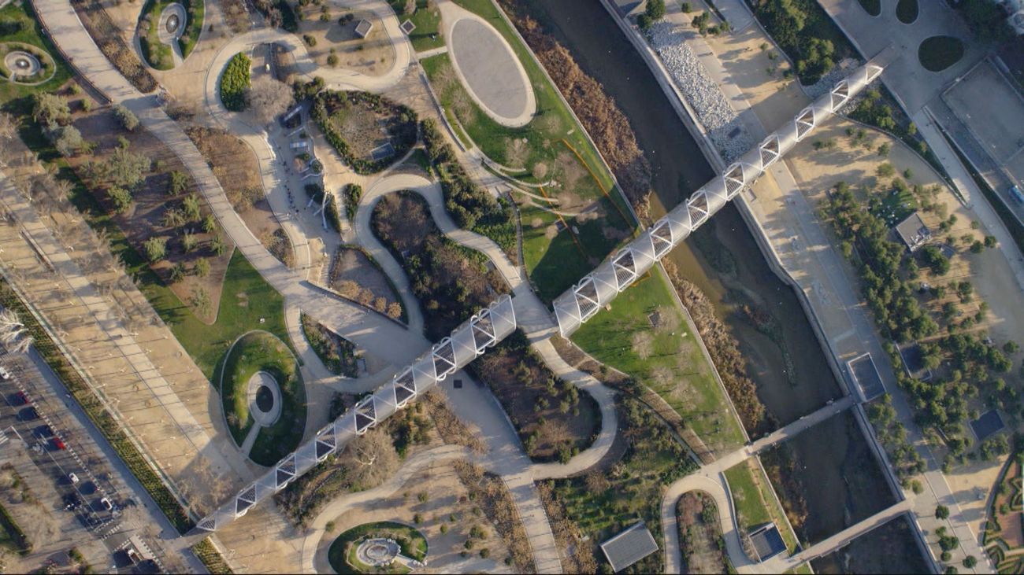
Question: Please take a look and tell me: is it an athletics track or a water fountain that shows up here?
water fountain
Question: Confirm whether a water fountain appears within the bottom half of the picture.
Yes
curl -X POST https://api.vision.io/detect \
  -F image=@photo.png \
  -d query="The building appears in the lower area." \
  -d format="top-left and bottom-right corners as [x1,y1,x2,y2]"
[599,521,659,573]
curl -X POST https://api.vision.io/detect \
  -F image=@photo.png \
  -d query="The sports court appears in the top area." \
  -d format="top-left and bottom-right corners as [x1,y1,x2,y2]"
[940,55,1024,187]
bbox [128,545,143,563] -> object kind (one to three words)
vehicle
